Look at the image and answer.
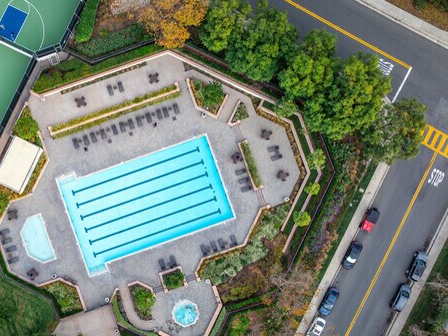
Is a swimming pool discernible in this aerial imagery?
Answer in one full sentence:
Yes, you can see a swimming pool in this photo.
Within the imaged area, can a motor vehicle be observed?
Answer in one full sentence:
Yes, the picture does show a motor vehicle.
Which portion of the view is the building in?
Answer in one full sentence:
The building is located in the left region of the scene.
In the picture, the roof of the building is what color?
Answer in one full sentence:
From above, the roof of the building looks white.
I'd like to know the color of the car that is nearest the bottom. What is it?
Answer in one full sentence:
The car that is nearest the bottom looks white in the image.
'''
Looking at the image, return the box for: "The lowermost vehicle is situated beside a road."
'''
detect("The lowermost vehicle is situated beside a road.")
[305,315,327,336]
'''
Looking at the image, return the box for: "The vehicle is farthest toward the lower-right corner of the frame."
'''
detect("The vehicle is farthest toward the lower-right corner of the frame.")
[388,282,411,312]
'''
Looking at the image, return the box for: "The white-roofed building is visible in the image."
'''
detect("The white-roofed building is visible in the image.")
[0,137,46,194]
